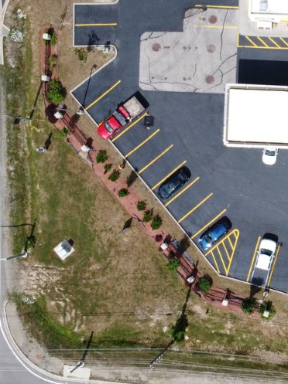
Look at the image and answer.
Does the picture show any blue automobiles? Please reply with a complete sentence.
Yes, a blue automobile appears in the view.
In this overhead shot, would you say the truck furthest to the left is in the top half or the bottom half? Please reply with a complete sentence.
It is in the top half that the truck furthest to the left appears.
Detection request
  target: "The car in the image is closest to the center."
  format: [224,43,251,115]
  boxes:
[158,165,192,200]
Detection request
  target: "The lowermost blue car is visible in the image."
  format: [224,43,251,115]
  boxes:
[198,219,231,251]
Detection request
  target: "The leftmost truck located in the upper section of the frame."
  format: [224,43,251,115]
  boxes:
[98,97,146,141]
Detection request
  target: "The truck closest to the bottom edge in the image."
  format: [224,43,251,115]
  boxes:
[250,238,275,289]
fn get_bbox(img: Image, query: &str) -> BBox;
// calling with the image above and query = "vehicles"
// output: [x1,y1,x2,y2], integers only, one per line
[98,97,146,141]
[250,238,275,289]
[158,165,192,200]
[263,147,280,165]
[198,219,231,251]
